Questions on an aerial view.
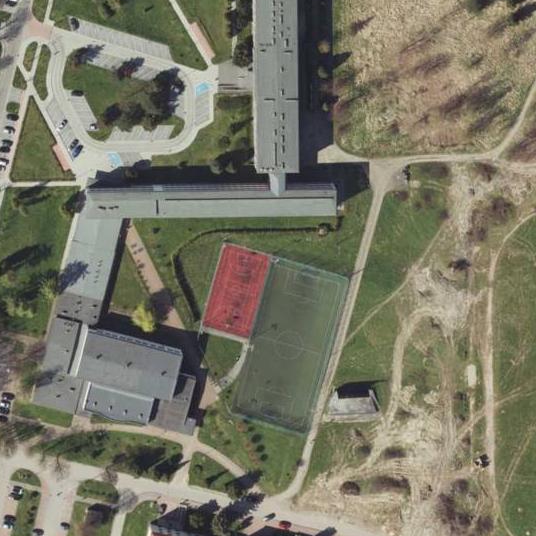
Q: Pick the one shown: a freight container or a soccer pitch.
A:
soccer pitch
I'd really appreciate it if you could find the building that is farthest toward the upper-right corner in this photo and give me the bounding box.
[250,0,299,173]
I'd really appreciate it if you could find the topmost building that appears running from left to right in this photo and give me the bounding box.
[81,181,336,218]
